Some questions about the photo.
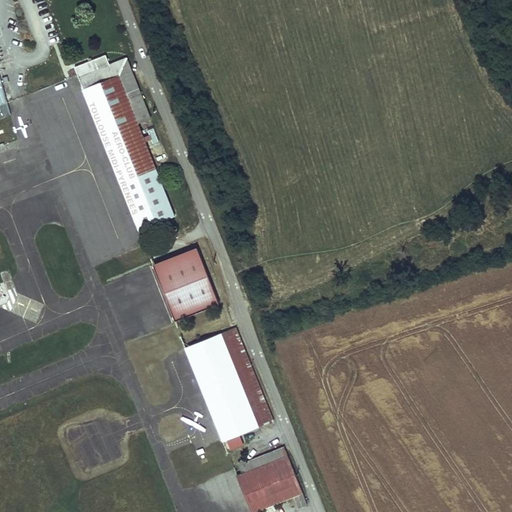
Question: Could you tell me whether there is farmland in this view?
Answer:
Yes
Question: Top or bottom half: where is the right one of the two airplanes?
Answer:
bottom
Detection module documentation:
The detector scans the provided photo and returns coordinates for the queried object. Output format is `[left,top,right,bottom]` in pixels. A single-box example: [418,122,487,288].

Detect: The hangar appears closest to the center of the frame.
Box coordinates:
[155,248,219,321]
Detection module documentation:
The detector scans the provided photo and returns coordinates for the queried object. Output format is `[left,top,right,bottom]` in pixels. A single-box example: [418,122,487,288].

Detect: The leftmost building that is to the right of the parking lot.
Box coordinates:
[74,55,126,88]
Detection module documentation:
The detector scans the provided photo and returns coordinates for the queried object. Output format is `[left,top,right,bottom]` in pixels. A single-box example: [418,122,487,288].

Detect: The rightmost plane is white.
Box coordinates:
[180,412,206,432]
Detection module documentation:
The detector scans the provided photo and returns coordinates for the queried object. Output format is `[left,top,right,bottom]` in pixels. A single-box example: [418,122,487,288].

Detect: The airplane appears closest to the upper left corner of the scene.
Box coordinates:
[12,116,28,138]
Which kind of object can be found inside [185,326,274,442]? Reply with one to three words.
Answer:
hangar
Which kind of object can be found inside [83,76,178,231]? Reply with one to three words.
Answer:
hangar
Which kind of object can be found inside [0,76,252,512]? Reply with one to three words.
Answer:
airport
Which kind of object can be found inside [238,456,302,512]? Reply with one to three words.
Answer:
building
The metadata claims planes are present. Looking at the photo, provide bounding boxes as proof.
[12,116,28,138]
[180,412,206,432]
